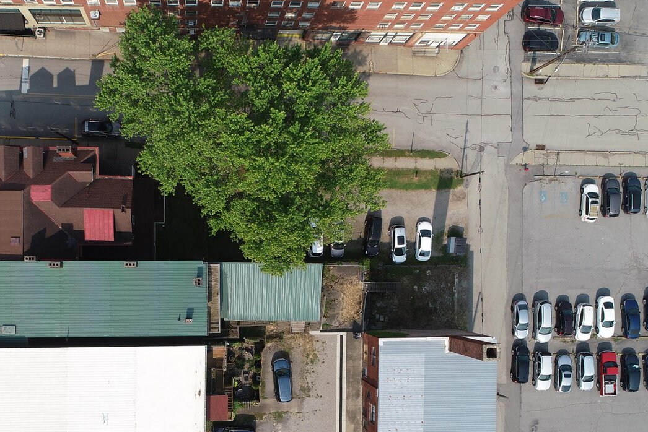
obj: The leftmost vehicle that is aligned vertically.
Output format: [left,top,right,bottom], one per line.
[271,356,293,402]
